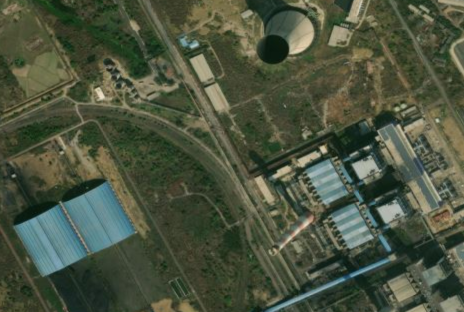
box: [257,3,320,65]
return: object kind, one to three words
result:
cooling tower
